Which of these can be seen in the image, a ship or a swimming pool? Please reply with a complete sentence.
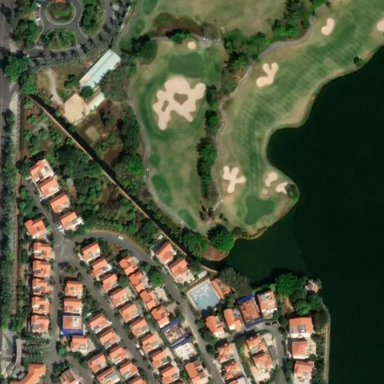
The one in the frame is a swimming pool.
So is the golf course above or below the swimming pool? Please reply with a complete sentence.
The golf course is located above the swimming pool in this view.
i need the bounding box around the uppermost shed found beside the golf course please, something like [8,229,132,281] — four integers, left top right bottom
[81,51,120,89]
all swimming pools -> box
[188,278,222,315]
